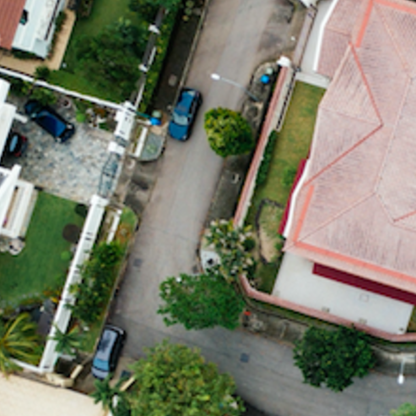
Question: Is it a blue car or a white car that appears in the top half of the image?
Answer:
blue car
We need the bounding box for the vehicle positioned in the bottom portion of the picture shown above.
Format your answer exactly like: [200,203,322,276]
[91,322,128,380]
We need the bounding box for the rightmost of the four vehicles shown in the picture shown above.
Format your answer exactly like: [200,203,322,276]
[167,86,202,142]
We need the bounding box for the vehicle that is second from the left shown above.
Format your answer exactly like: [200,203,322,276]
[23,99,81,142]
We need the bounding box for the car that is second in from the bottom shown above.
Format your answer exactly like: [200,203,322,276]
[4,130,31,157]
